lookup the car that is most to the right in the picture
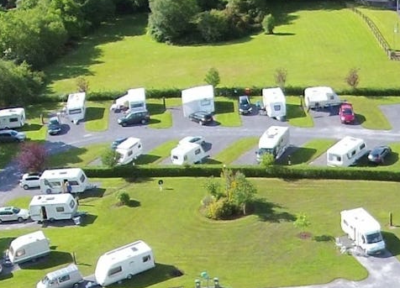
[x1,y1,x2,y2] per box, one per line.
[367,148,393,164]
